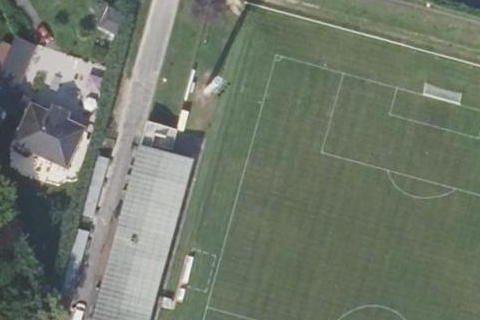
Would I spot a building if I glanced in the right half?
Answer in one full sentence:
No, I see no building in the right half.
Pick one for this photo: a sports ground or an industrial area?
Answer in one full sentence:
What you see here is a sports ground.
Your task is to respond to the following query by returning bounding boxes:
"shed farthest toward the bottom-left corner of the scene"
[62,229,89,295]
